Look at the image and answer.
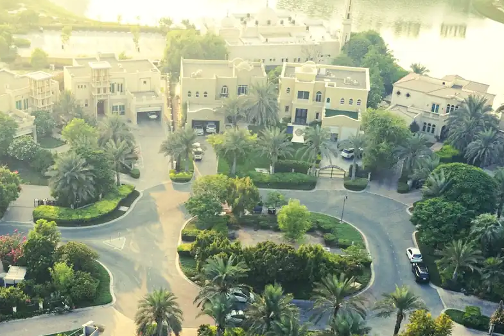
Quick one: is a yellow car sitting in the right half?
No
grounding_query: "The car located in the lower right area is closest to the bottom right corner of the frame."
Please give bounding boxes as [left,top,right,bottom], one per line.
[410,262,432,281]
